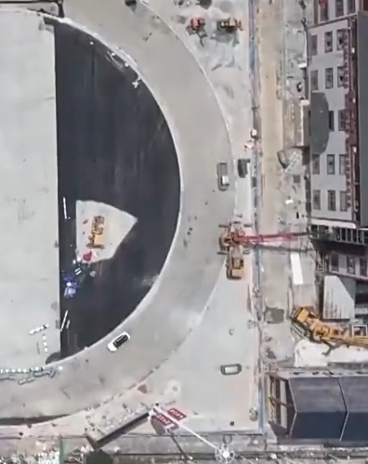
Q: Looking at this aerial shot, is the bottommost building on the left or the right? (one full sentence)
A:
You can find the bottommost building on the right side of the picture.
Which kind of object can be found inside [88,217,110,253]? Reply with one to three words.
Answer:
work vehicle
